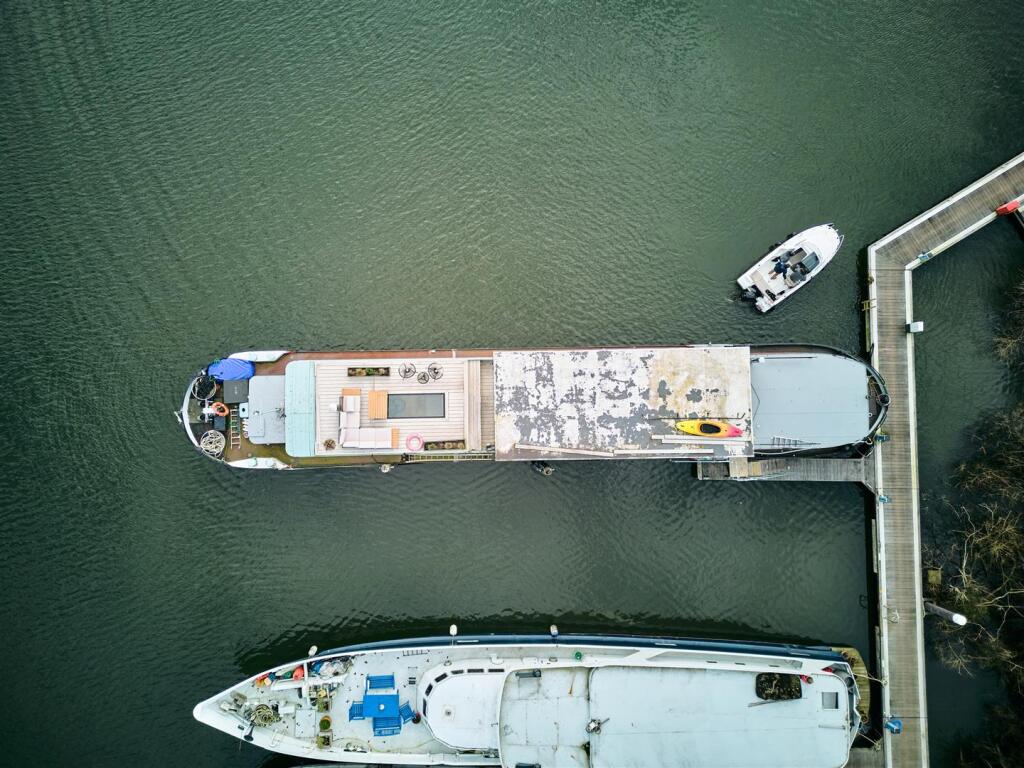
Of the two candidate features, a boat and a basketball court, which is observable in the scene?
boat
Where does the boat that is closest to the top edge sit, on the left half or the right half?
right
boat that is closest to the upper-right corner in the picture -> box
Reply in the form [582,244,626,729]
[737,227,845,314]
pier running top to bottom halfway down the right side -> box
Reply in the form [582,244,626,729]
[864,153,1024,768]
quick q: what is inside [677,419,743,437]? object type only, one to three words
boat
